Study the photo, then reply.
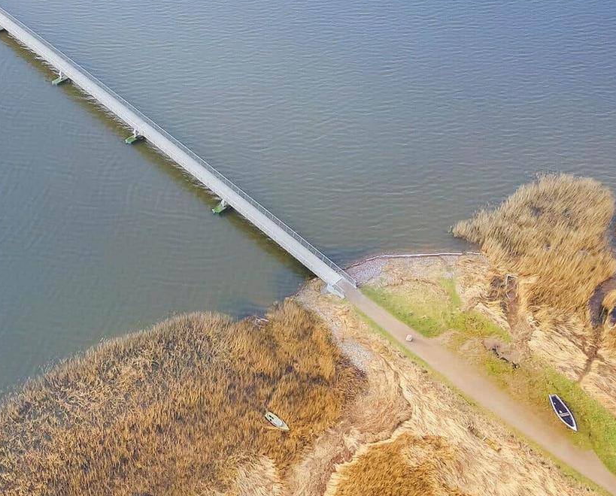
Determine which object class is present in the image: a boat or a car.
boat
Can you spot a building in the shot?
No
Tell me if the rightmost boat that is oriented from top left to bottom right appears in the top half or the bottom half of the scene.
bottom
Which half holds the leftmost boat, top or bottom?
bottom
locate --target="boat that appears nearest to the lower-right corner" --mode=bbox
[548,394,578,431]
